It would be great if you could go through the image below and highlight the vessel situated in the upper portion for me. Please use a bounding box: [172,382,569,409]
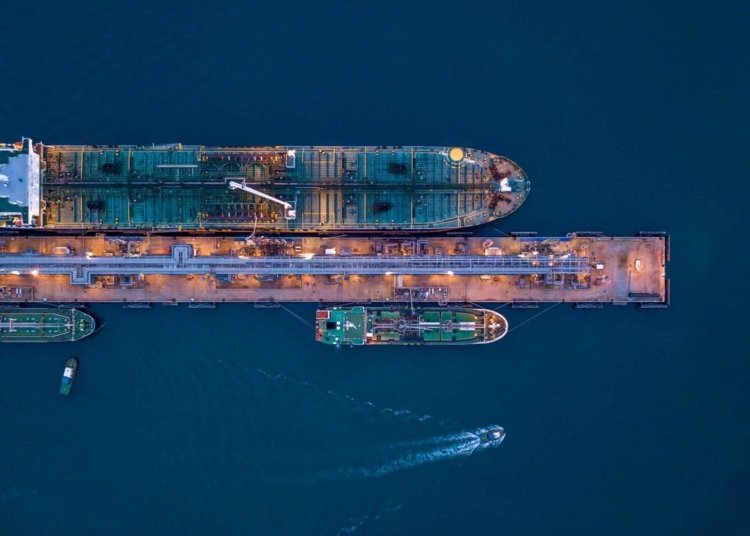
[0,138,530,231]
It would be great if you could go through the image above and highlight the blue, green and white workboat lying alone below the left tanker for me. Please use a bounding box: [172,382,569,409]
[59,357,76,394]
